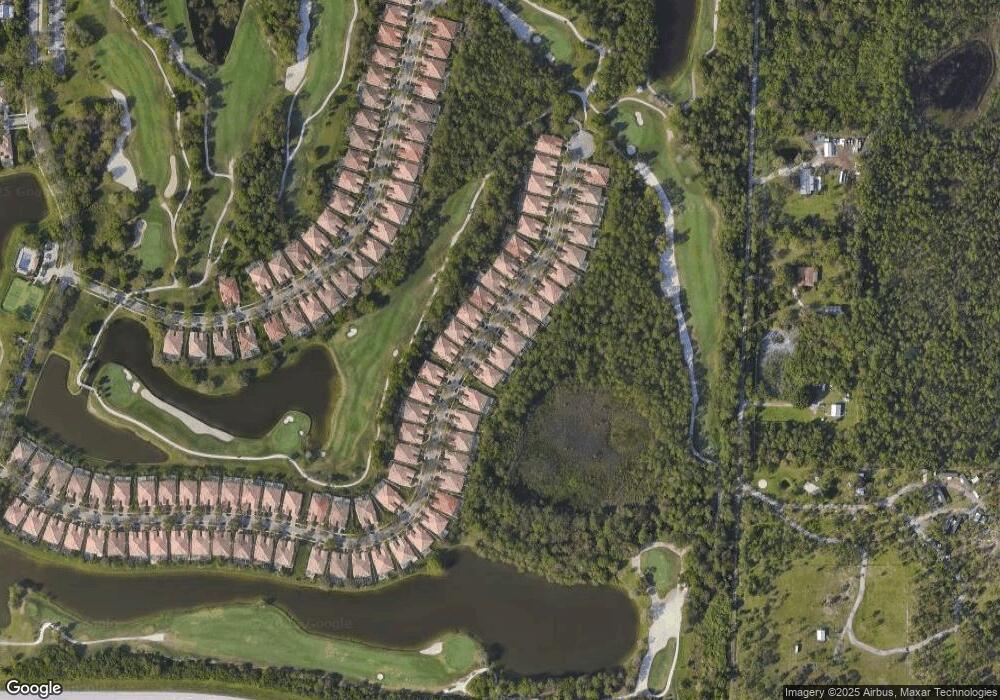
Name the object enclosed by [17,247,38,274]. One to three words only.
swimming pool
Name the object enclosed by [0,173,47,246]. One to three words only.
pond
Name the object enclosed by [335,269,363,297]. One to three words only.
house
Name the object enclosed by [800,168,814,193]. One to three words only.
barn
